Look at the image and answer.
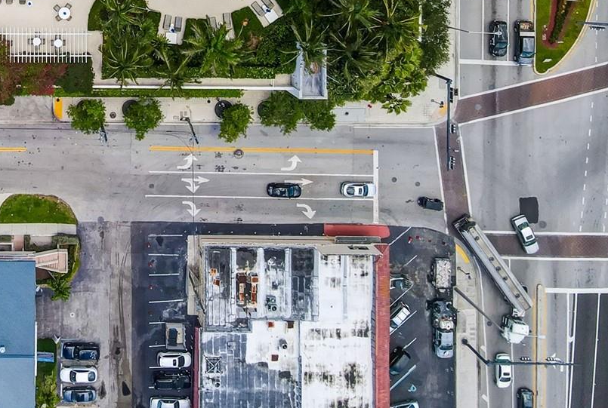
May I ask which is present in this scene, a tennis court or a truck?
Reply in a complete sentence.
This aerial view contains a truck.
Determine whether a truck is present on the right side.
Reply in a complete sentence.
Yes, a truck shows up on the right side.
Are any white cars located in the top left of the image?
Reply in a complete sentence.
No, there is no white car in the top left of the image.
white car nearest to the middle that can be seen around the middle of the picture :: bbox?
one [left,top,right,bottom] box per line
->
[339,182,375,199]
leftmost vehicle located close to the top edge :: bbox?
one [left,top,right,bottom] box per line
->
[488,19,510,58]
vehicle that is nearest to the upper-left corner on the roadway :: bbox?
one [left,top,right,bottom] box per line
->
[266,182,301,198]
